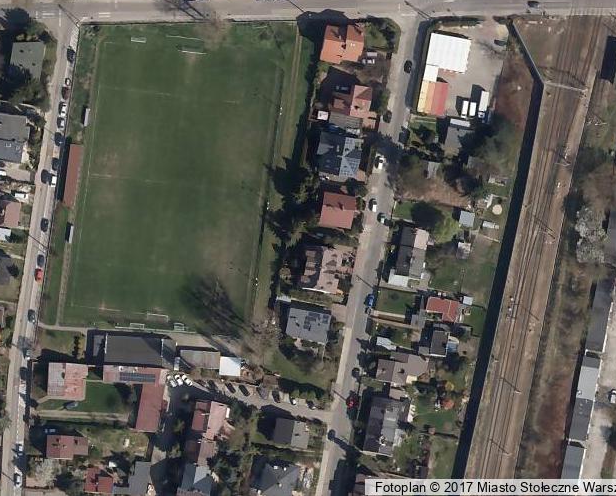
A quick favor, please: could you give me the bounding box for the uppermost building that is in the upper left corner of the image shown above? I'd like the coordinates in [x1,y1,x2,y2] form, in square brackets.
[10,42,45,79]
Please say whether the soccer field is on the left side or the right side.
left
